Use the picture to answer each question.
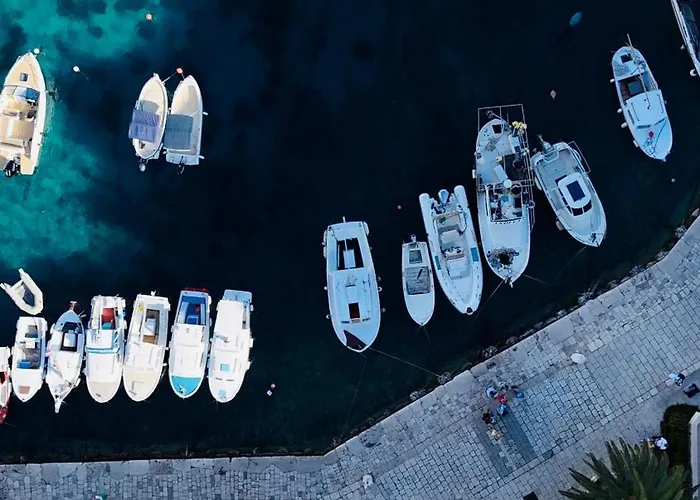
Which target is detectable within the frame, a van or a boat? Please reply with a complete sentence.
There is a boat in the scene.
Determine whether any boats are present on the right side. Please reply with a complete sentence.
Yes, a boat appears on the right side.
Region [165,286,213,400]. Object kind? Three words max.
boat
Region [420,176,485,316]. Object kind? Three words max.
boat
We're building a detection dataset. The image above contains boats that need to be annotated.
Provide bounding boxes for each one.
[46,300,84,412]
[204,289,257,404]
[0,345,13,419]
[321,215,385,352]
[0,267,44,317]
[81,295,128,404]
[529,131,604,248]
[120,291,171,404]
[400,233,435,327]
[162,74,206,177]
[165,286,213,400]
[0,51,46,185]
[612,30,671,161]
[472,97,543,288]
[11,315,49,402]
[420,176,485,316]
[130,72,168,174]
